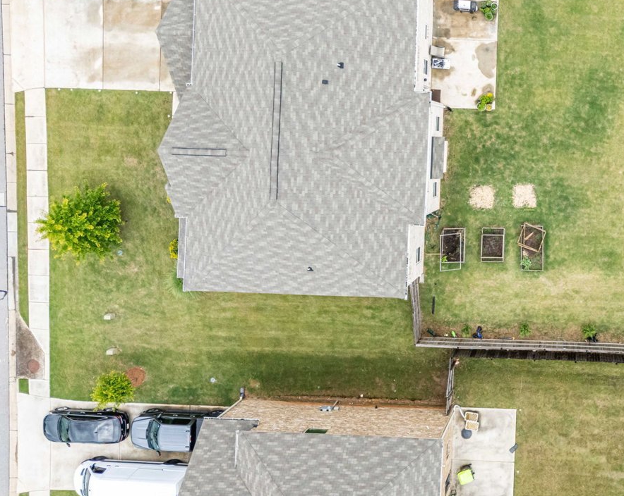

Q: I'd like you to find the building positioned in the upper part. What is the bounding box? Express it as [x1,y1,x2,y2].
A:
[158,0,455,300]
